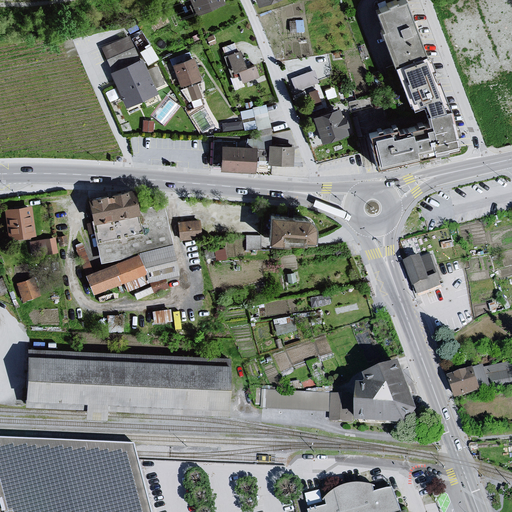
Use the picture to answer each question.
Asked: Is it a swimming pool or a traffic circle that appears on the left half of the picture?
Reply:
swimming pool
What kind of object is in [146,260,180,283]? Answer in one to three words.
building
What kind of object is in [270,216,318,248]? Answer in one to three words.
house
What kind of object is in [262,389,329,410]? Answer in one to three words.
shed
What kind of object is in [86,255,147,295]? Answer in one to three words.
barn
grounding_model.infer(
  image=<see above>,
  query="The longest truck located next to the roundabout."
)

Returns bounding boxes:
[312,200,352,222]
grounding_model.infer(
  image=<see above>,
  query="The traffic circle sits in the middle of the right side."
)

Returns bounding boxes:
[344,178,402,236]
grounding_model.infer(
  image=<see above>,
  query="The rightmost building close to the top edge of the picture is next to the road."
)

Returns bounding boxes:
[368,0,460,172]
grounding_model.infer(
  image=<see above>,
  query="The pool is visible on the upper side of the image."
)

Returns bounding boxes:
[151,96,180,126]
